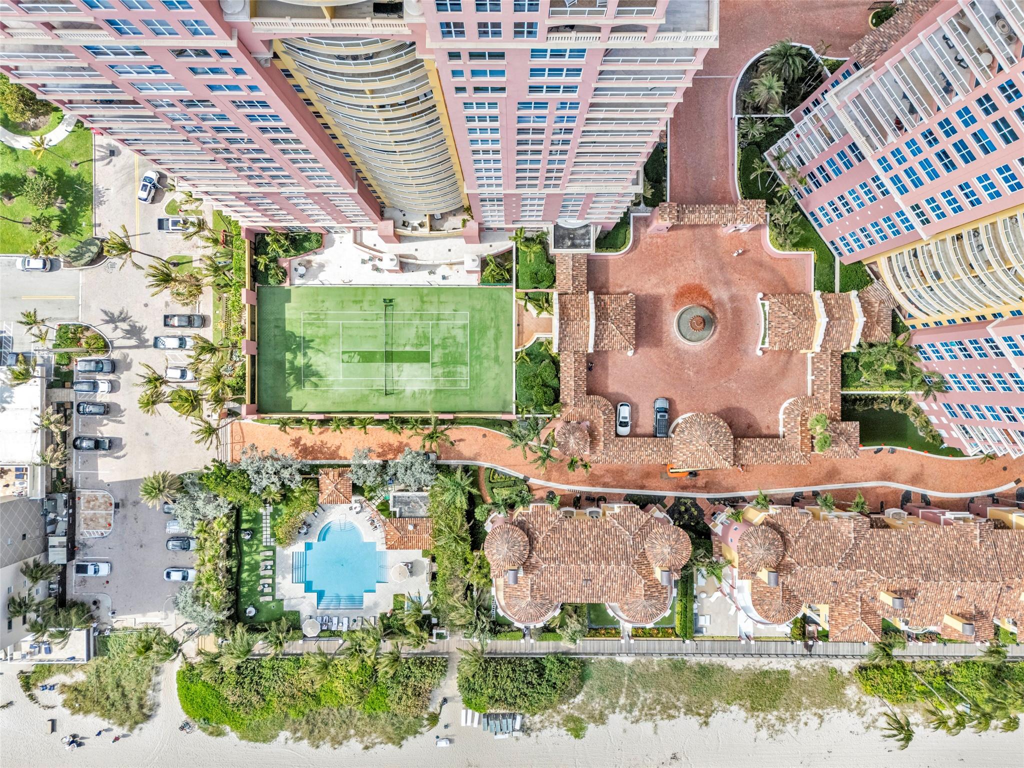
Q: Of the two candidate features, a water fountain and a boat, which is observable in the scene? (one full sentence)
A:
Of the two, only a water fountain appears.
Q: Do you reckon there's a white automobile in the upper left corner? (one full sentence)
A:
Yes, looking in the upper left corner, one can make out a white automobile.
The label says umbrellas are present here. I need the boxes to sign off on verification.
[390,562,410,583]
[301,616,322,638]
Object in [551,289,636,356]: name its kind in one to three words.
building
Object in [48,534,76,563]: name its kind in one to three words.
shed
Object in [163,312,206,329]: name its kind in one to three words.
vehicle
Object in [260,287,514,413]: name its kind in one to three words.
tennis court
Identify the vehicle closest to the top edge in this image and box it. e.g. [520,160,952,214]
[140,170,163,206]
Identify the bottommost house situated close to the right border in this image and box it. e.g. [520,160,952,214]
[704,498,1024,643]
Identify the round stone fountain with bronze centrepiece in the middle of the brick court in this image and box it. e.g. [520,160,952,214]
[674,304,716,346]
